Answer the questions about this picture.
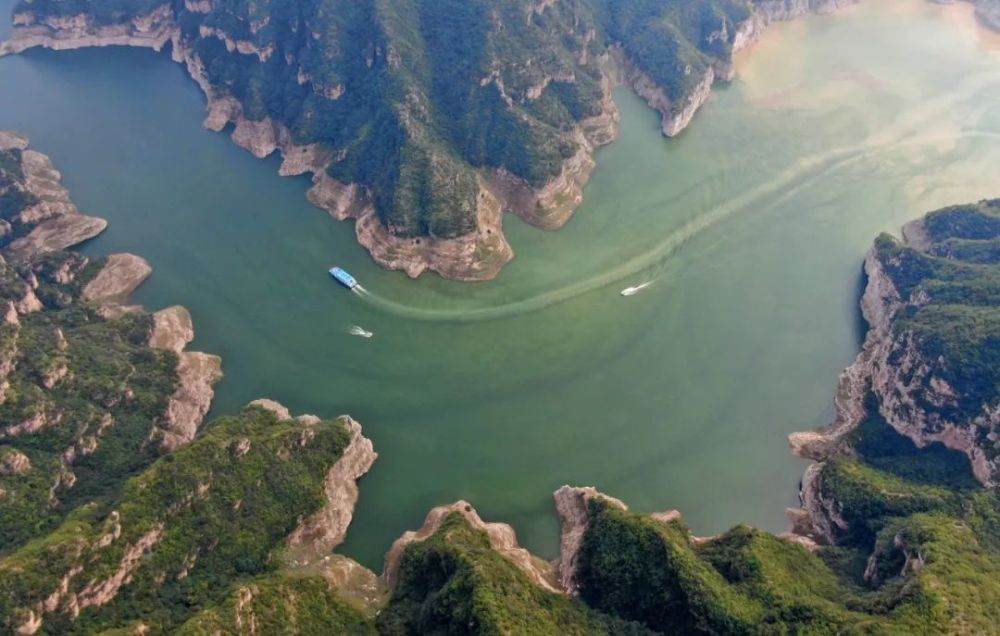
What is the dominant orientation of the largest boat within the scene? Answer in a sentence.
In this picture, the largest boat lies on a diagonal.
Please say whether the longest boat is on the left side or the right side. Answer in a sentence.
The longest boat sits on the left side.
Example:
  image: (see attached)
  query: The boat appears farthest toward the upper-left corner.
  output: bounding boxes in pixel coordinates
[331,268,357,288]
